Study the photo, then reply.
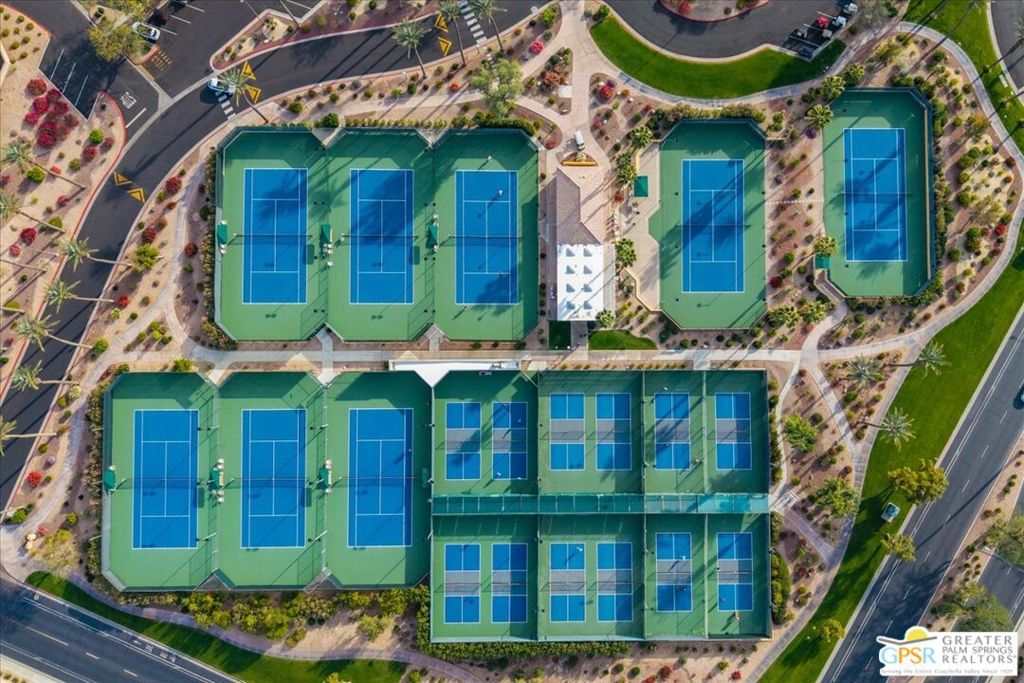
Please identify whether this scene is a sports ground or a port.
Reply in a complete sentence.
It's a sports ground.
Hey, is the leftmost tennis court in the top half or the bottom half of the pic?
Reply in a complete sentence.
Seen from above, the leftmost tennis court lies in the bottom half of the view.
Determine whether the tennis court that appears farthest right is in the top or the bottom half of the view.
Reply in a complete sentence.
You can find the tennis court that appears farthest right in the top half.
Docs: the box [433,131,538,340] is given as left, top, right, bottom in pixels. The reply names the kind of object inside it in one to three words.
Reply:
tennis court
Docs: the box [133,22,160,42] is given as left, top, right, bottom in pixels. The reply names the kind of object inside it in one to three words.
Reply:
car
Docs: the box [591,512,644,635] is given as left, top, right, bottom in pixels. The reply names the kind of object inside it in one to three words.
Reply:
sports court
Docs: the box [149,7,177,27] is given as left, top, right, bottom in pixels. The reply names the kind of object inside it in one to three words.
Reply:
car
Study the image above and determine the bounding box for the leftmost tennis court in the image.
[111,374,216,586]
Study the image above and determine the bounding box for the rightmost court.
[822,92,927,296]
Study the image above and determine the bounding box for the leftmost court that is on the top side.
[222,131,325,340]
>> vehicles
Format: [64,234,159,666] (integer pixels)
[843,1,862,17]
[814,14,832,30]
[831,14,850,29]
[797,44,816,59]
[133,22,160,42]
[818,26,837,41]
[208,78,235,98]
[573,134,584,151]
[149,7,177,27]
[793,24,812,39]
